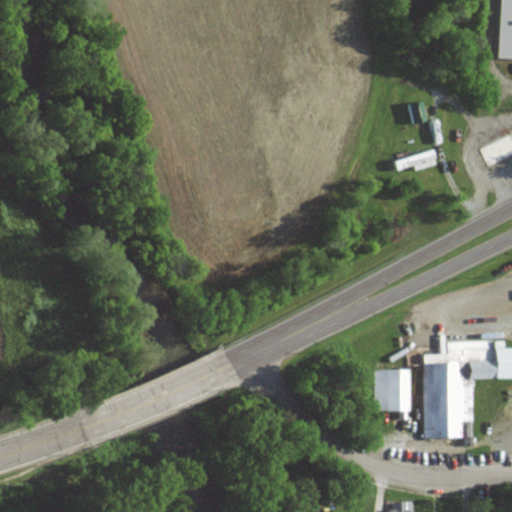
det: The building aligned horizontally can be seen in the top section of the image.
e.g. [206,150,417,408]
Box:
[394,148,437,172]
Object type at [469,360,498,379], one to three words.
building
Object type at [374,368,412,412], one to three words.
shed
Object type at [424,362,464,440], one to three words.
barn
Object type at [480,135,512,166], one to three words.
building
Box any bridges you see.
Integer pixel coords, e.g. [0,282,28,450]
[79,345,241,447]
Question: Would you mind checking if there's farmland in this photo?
Yes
